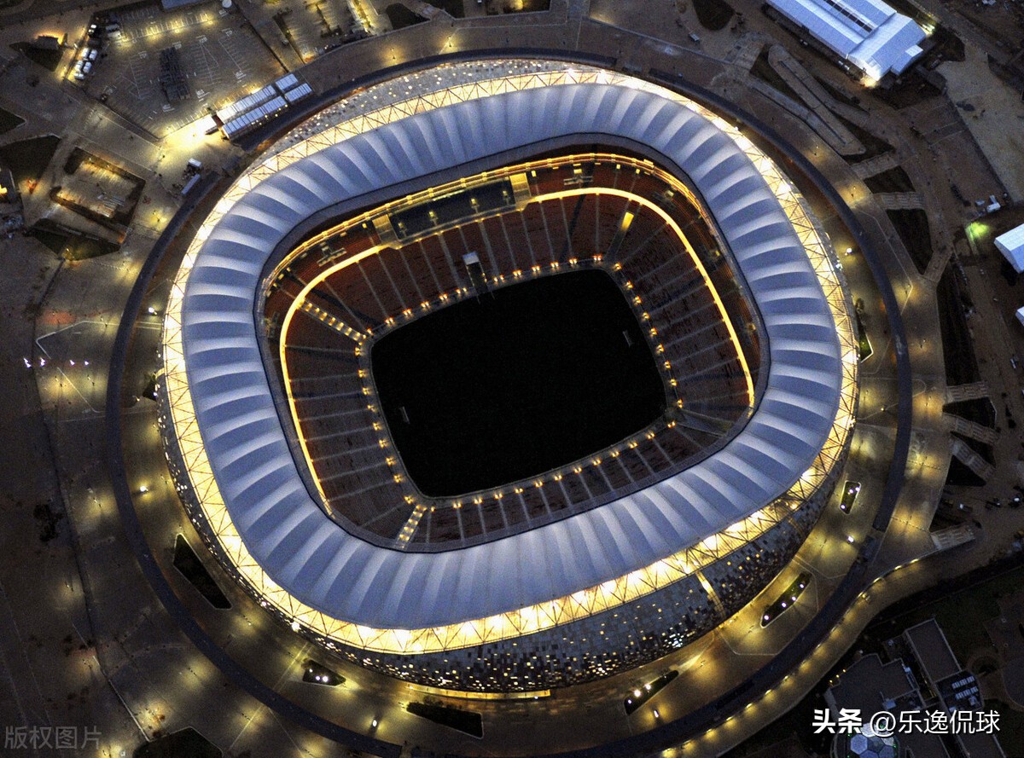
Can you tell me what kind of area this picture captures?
sports ground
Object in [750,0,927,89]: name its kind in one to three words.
building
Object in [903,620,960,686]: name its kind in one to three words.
building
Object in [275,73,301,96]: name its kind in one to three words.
tent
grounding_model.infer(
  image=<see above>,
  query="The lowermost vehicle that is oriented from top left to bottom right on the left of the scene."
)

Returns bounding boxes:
[186,154,202,167]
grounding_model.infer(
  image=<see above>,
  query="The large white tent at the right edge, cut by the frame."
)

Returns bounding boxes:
[990,223,1024,276]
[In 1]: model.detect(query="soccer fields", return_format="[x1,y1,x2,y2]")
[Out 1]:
[356,257,681,510]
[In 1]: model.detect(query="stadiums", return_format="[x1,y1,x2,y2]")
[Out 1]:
[158,63,866,700]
